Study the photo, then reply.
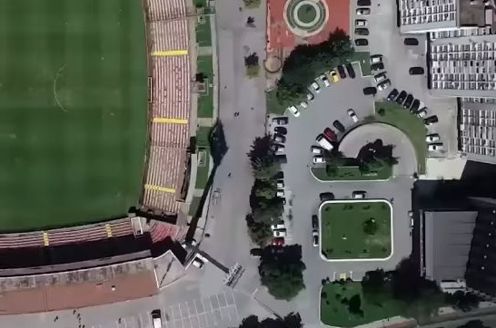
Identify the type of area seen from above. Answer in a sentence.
What you see here is a sports ground.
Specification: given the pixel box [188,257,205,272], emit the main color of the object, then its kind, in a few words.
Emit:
white vehicle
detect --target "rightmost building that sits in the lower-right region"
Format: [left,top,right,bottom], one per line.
[450,192,496,291]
